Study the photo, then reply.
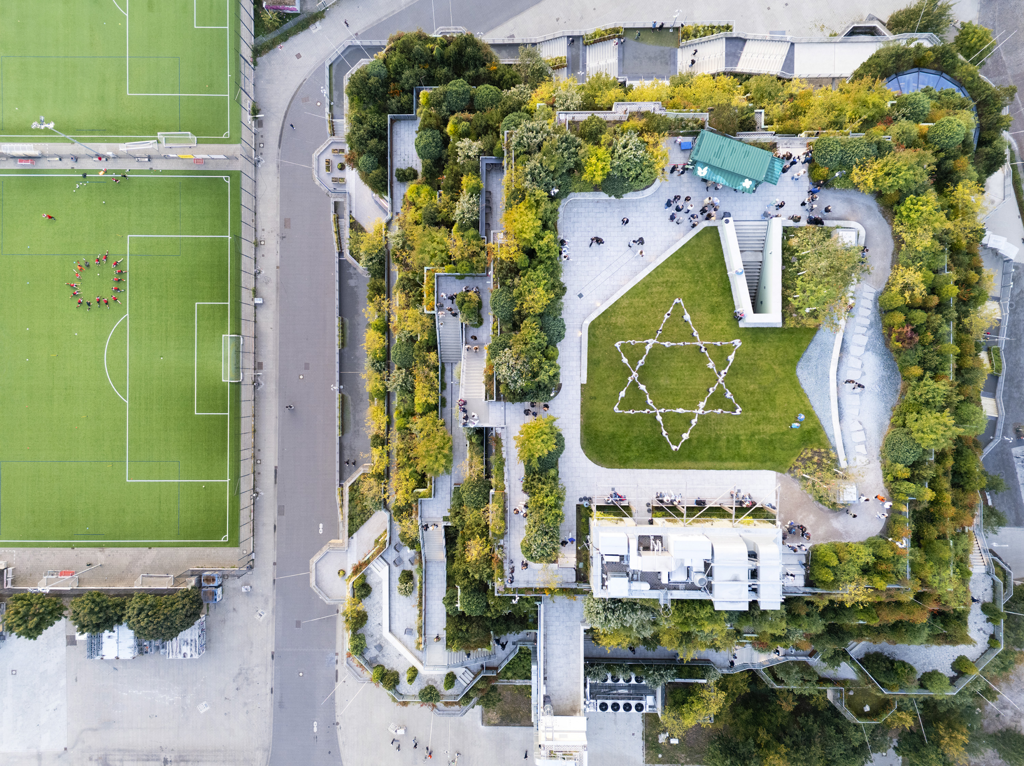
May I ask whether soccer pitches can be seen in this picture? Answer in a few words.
Yes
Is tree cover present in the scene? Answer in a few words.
Yes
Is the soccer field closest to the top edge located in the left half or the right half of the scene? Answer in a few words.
left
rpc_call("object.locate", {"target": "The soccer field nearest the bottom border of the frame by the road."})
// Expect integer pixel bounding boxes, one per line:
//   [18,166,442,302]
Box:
[0,171,241,548]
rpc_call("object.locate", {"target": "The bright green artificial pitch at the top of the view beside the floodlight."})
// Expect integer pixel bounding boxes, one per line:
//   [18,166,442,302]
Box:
[0,0,241,143]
